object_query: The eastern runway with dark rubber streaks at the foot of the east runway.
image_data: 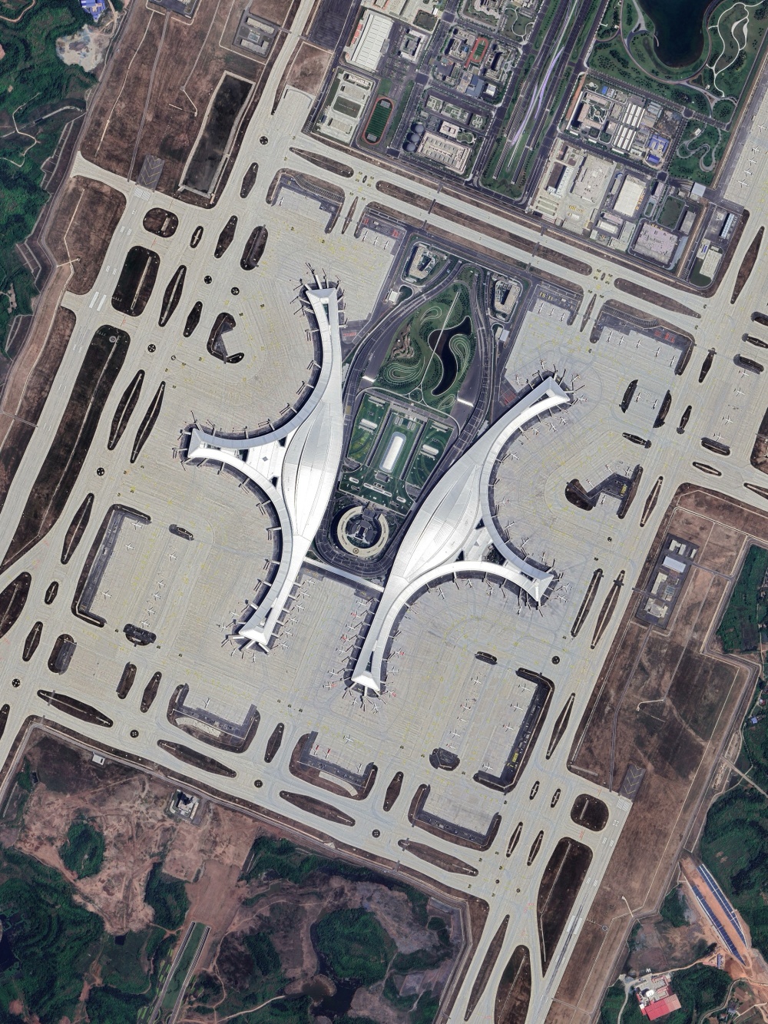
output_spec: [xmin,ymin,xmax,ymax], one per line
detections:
[527,795,631,1024]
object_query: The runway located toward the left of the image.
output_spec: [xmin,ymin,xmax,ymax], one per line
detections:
[0,184,154,566]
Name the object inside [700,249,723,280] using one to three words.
hangar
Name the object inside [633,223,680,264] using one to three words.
building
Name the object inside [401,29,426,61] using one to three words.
building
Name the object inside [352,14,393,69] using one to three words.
hangar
